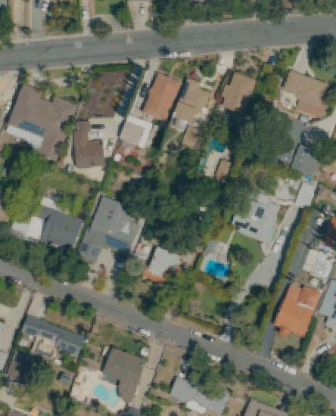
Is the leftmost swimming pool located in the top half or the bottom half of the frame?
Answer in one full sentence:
The leftmost swimming pool is in the bottom half of the image.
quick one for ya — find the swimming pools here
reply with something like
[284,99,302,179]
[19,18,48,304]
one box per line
[95,382,119,405]
[202,258,231,280]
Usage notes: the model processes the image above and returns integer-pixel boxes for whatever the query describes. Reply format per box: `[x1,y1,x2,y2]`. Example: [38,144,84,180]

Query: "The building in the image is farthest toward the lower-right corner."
[243,394,296,416]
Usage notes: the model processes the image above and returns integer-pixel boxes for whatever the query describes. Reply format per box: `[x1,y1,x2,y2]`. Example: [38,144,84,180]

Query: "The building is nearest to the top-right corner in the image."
[286,72,331,116]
